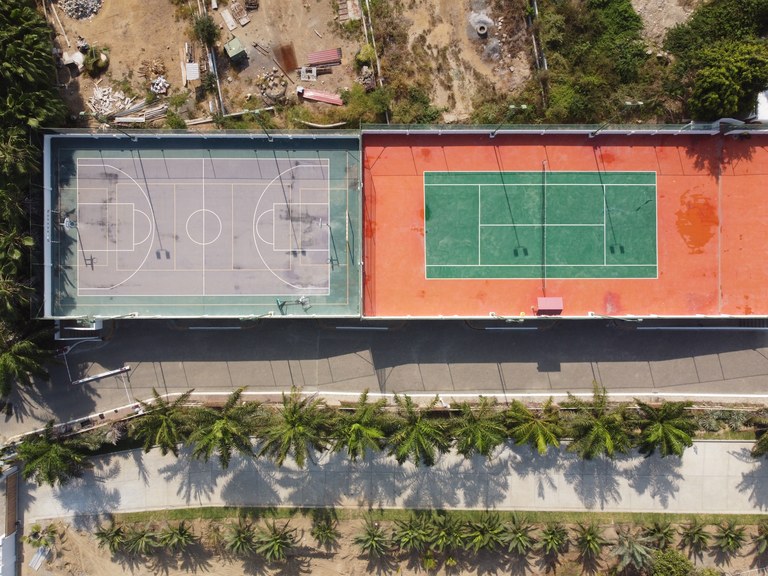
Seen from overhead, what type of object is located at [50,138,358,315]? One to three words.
basketball court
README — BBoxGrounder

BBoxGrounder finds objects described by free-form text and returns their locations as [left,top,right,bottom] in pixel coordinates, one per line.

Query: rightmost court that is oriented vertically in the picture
[720,134,768,316]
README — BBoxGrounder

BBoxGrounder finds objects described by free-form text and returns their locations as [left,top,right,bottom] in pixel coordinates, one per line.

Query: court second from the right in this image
[362,134,718,316]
